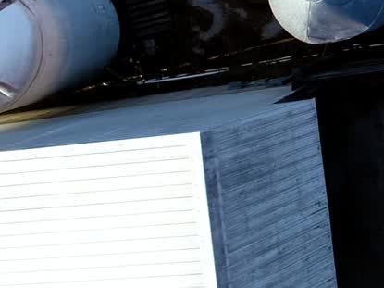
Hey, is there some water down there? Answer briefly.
No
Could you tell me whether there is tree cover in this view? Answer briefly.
No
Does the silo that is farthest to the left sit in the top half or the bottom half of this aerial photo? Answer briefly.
top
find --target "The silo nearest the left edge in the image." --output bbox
[0,0,116,113]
